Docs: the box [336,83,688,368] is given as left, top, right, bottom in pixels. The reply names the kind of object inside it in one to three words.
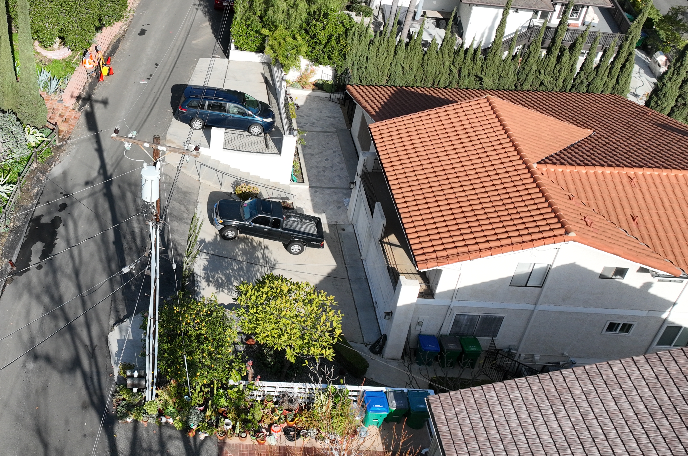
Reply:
house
